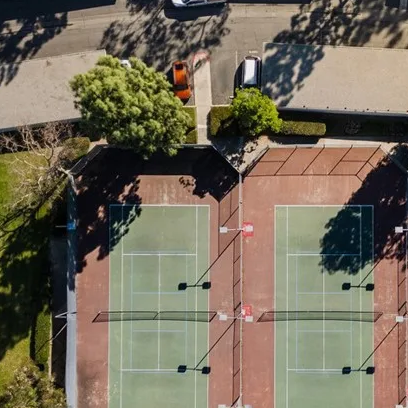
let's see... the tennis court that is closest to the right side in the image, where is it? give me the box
[245,150,407,408]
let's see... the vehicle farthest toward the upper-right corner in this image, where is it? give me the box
[240,55,261,95]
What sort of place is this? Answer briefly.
sports ground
